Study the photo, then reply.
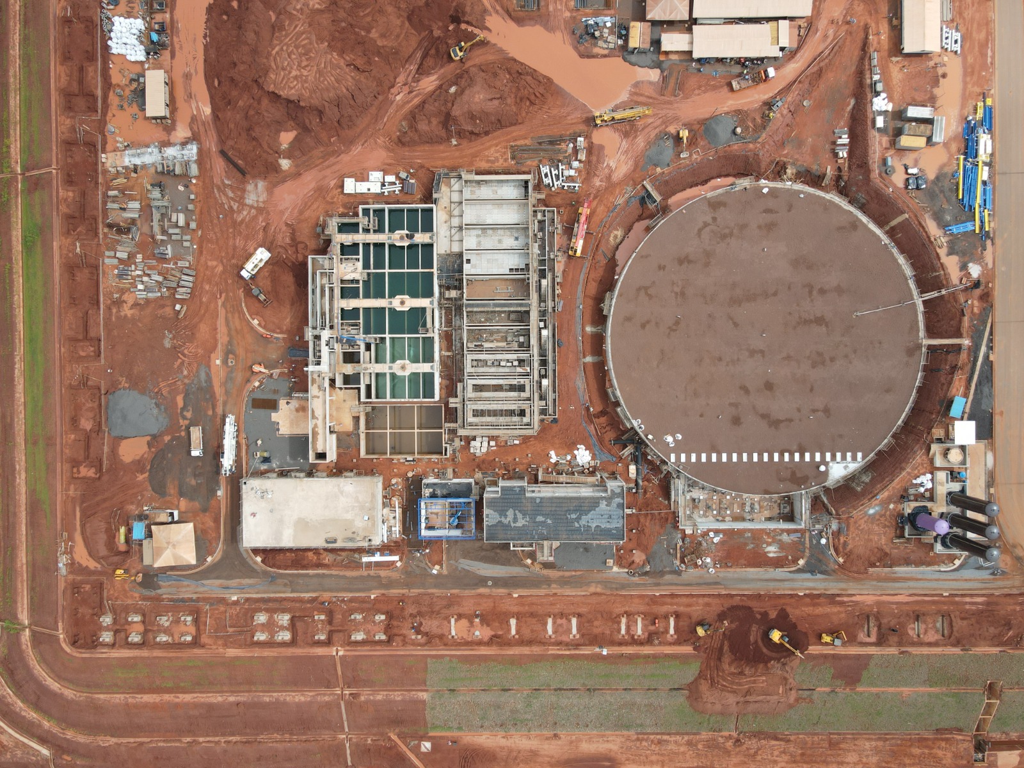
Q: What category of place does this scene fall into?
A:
industrial area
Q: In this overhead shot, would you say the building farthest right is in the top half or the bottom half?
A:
top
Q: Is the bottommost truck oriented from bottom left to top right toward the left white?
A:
Yes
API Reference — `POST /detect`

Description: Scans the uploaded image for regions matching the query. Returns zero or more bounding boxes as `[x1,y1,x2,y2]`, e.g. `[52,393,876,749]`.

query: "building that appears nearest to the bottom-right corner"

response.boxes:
[484,473,629,562]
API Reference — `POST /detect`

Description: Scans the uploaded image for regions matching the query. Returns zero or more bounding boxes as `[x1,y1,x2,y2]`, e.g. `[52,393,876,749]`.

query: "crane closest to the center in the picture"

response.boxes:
[563,196,598,256]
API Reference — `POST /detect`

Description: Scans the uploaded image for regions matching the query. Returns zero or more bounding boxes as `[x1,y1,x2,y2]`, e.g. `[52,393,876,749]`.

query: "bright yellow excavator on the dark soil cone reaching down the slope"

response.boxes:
[771,630,810,664]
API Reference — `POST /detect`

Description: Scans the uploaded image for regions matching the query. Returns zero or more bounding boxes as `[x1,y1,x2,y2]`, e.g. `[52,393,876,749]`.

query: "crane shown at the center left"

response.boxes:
[216,414,237,475]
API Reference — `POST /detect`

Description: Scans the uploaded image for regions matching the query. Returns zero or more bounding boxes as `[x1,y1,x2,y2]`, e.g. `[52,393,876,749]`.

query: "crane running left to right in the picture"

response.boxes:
[594,104,656,125]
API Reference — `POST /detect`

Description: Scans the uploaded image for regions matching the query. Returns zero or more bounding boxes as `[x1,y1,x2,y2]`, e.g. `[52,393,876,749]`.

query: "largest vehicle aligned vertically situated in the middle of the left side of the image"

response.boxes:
[186,426,202,458]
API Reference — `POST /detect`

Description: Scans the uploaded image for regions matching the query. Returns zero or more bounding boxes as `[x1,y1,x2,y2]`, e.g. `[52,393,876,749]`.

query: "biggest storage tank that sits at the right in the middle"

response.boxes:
[603,178,928,497]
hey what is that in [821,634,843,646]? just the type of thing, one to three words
vehicle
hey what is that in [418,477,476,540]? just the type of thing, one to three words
building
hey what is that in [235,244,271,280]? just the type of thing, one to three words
truck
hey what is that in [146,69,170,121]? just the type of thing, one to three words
shed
